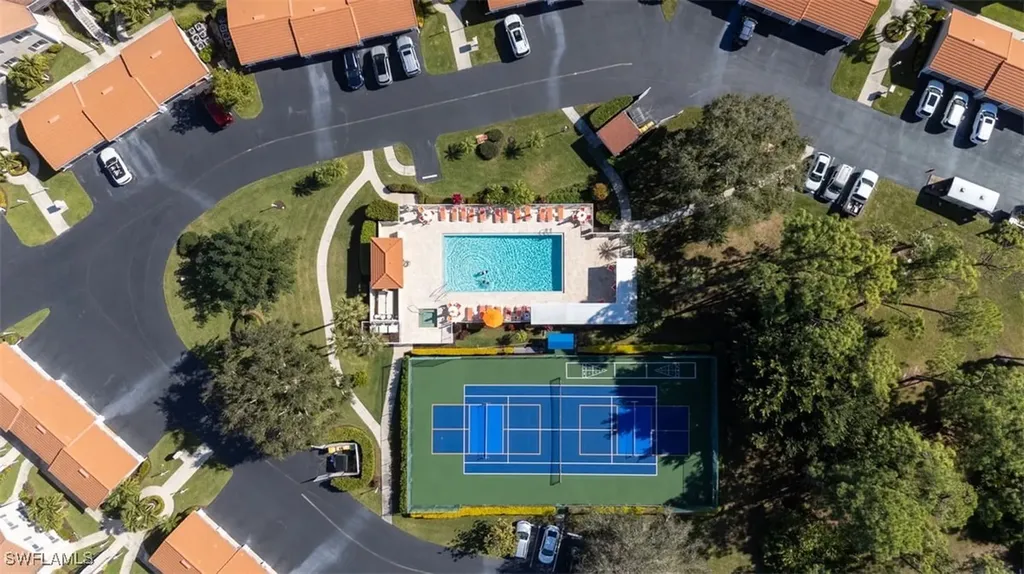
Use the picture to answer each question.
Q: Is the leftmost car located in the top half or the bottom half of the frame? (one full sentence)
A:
The top half of the photo is where the leftmost car is.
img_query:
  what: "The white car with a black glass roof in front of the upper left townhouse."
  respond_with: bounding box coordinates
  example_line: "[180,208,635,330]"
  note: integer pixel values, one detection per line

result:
[103,147,133,186]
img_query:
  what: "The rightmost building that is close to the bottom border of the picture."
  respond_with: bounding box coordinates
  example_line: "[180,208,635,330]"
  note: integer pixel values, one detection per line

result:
[151,508,287,574]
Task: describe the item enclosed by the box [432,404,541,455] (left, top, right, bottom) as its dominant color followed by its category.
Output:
blue sports court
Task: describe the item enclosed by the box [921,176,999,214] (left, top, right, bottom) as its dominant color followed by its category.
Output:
white trailer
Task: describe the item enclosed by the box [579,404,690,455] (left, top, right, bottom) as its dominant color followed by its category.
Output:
blue sports court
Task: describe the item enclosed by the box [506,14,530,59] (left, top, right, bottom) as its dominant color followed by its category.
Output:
white car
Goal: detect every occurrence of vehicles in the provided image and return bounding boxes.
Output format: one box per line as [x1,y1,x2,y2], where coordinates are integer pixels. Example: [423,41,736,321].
[734,13,758,49]
[822,163,854,203]
[539,522,560,563]
[506,14,530,59]
[103,147,133,186]
[398,36,421,78]
[513,517,532,561]
[969,103,997,145]
[199,92,234,127]
[843,168,879,219]
[344,49,364,90]
[940,91,968,131]
[803,153,829,193]
[914,80,943,120]
[372,46,393,87]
